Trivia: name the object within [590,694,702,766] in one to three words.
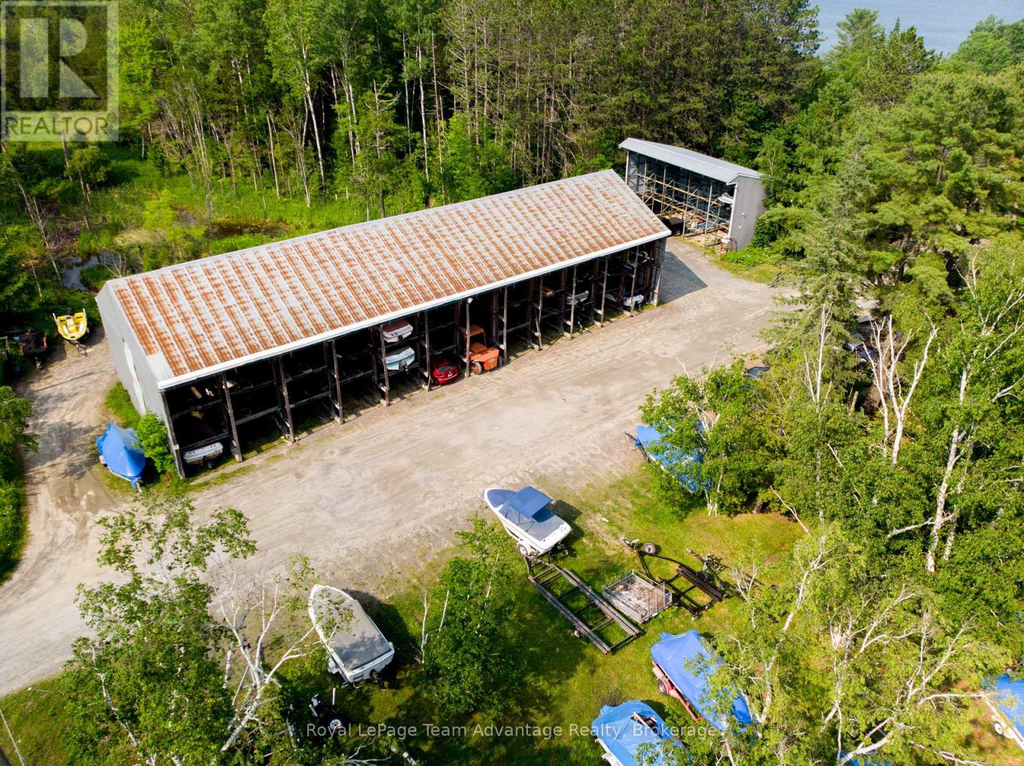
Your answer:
boat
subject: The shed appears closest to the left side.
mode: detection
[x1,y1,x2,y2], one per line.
[92,168,672,482]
